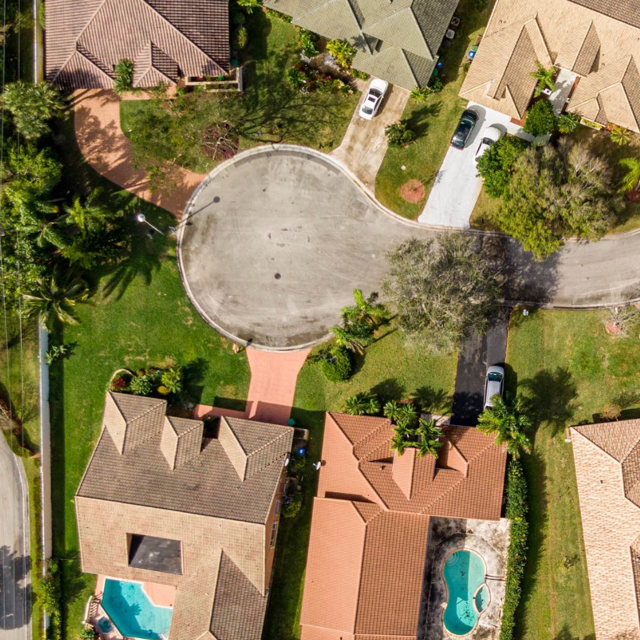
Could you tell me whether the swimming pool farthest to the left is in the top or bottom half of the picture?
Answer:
bottom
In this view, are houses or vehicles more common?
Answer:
houses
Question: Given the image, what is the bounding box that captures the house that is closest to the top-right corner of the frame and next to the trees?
[458,0,640,136]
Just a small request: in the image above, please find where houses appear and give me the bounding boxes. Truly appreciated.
[458,0,640,136]
[44,0,234,99]
[570,420,640,640]
[263,0,460,95]
[300,411,507,640]
[74,391,296,640]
